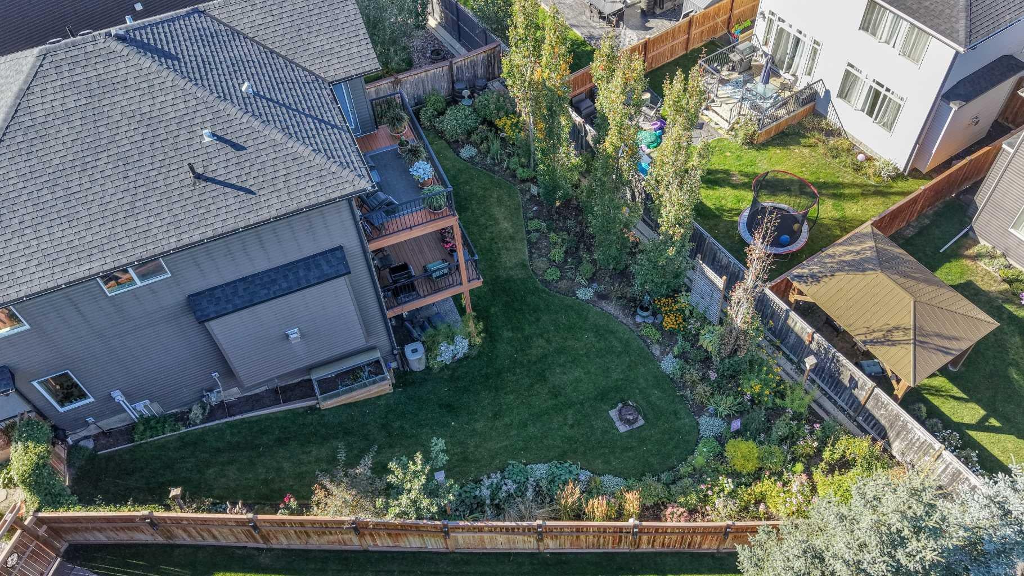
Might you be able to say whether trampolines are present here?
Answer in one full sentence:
Yes, the image includes a trampoline.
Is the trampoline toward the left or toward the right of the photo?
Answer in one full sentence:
The trampoline is on the right side of the image.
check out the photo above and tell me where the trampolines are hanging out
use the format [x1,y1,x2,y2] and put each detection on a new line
[737,167,820,264]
